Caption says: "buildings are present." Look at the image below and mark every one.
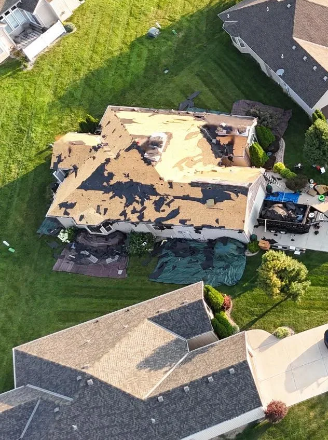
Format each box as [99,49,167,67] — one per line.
[0,0,84,66]
[47,107,269,243]
[223,0,328,119]
[0,280,265,440]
